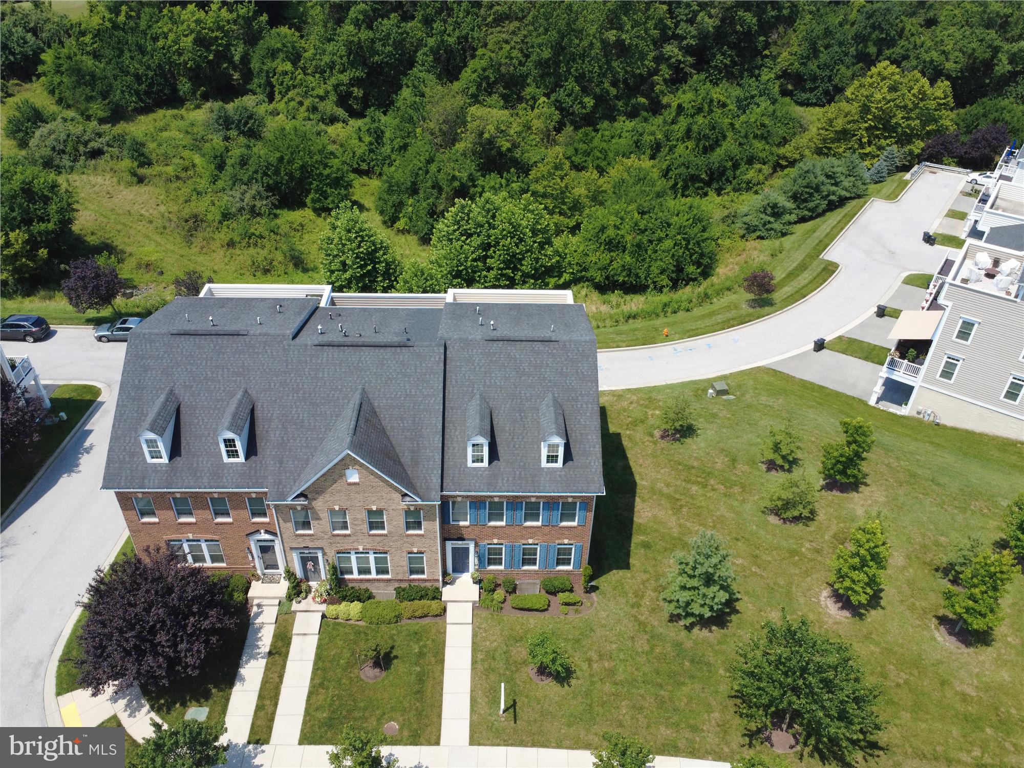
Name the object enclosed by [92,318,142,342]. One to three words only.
car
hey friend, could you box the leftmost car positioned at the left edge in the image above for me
[0,315,50,342]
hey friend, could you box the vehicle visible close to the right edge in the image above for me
[967,174,994,186]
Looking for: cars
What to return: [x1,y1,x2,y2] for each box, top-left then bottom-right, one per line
[967,174,994,186]
[0,315,50,342]
[92,318,142,342]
